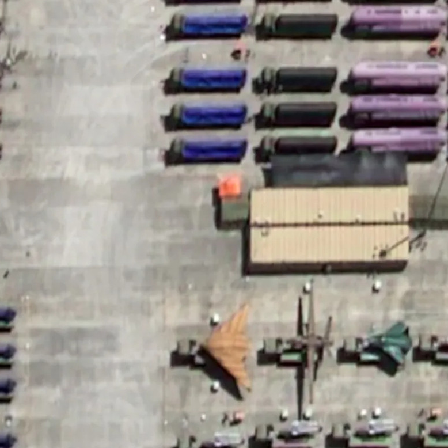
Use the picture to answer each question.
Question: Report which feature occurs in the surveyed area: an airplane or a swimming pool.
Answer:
airplane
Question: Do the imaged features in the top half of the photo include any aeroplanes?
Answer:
No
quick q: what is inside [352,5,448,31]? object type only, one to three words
truck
